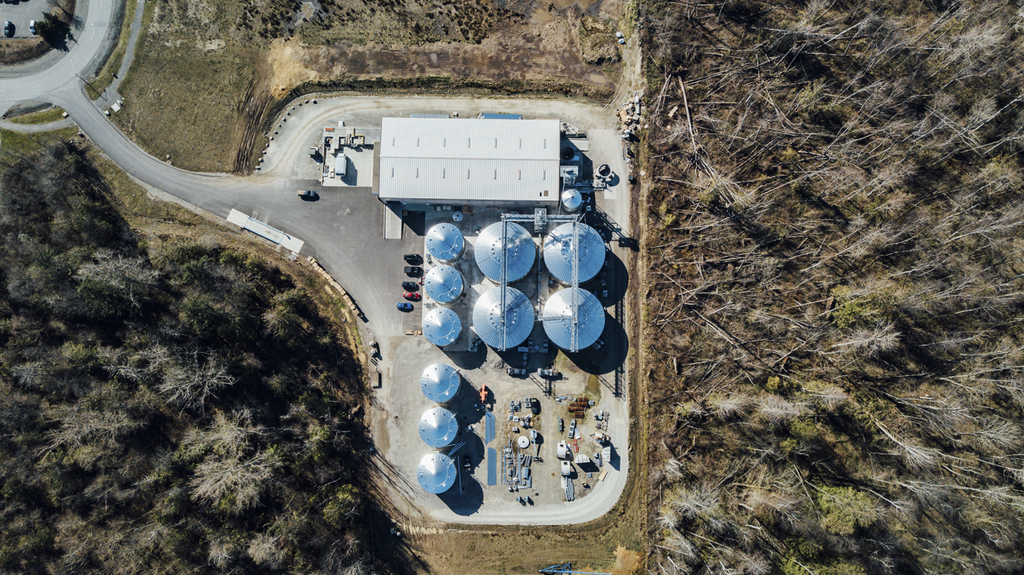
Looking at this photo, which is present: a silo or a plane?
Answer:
silo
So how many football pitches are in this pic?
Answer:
none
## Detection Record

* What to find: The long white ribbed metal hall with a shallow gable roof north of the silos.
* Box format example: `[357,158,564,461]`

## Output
[373,117,560,207]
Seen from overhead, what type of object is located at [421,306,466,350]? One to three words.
silo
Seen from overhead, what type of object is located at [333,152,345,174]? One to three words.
vehicle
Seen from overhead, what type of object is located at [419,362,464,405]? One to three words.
silo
